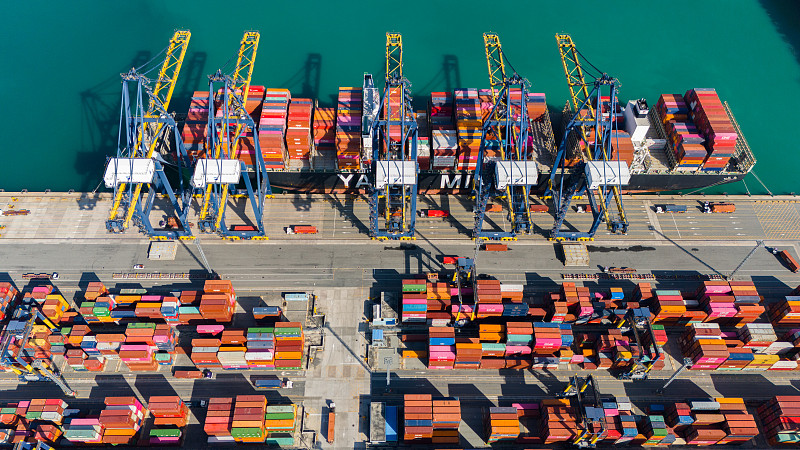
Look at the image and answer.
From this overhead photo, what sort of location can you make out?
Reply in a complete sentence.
The area seen from above is a port.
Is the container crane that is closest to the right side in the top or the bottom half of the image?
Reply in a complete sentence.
The bottom half of the photo is where the container crane that is closest to the right side is.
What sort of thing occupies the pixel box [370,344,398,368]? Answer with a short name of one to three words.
building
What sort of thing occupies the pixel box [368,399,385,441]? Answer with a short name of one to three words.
building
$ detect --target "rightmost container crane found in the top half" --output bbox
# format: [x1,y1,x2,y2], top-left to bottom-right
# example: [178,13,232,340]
[541,30,634,244]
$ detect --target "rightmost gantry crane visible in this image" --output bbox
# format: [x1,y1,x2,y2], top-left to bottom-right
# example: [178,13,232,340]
[613,304,663,376]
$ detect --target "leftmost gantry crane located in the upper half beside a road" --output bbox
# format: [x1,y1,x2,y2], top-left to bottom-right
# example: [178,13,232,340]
[103,27,202,243]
